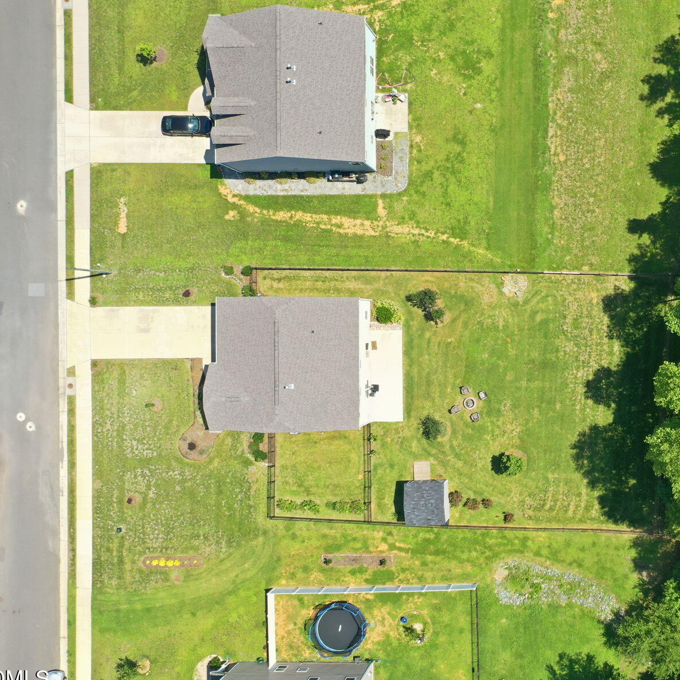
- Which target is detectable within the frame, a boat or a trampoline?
trampoline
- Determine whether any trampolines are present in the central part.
No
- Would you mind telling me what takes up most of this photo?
grass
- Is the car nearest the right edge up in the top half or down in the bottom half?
top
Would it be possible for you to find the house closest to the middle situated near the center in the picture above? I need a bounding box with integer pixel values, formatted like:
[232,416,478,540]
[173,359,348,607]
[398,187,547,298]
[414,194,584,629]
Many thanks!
[202,296,375,433]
